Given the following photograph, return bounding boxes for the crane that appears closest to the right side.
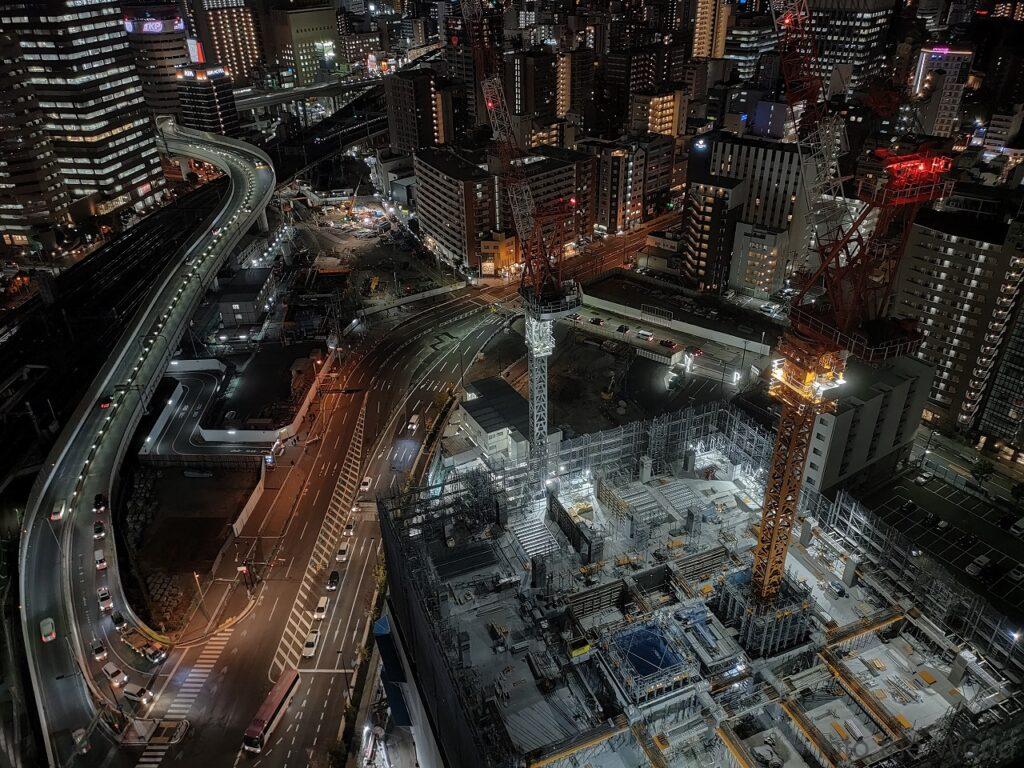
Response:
[745,0,956,638]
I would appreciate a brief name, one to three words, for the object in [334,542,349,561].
car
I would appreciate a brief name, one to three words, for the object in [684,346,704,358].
vehicle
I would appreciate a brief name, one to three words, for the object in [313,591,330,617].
car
